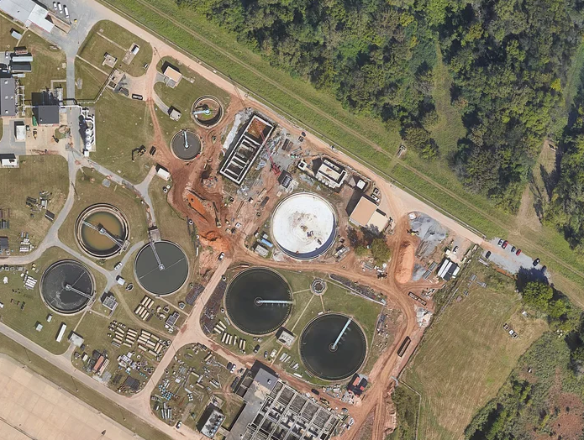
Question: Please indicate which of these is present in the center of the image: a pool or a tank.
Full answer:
The feature located in the center of the image is a tank.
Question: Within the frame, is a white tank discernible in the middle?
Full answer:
Yes, a white tank appears in the middle.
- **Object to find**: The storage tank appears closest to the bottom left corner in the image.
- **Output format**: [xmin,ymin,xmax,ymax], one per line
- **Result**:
[39,258,98,316]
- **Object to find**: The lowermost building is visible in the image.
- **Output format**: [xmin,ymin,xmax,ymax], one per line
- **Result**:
[200,407,227,439]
